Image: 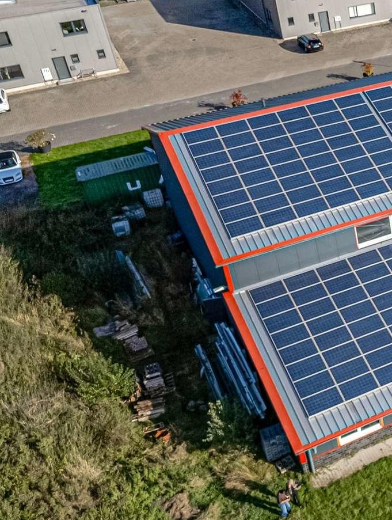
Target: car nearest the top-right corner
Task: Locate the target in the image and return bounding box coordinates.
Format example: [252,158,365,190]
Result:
[295,32,322,53]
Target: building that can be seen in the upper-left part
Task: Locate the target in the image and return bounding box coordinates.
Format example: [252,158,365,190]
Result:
[0,0,120,94]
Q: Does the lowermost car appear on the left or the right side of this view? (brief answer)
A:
left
